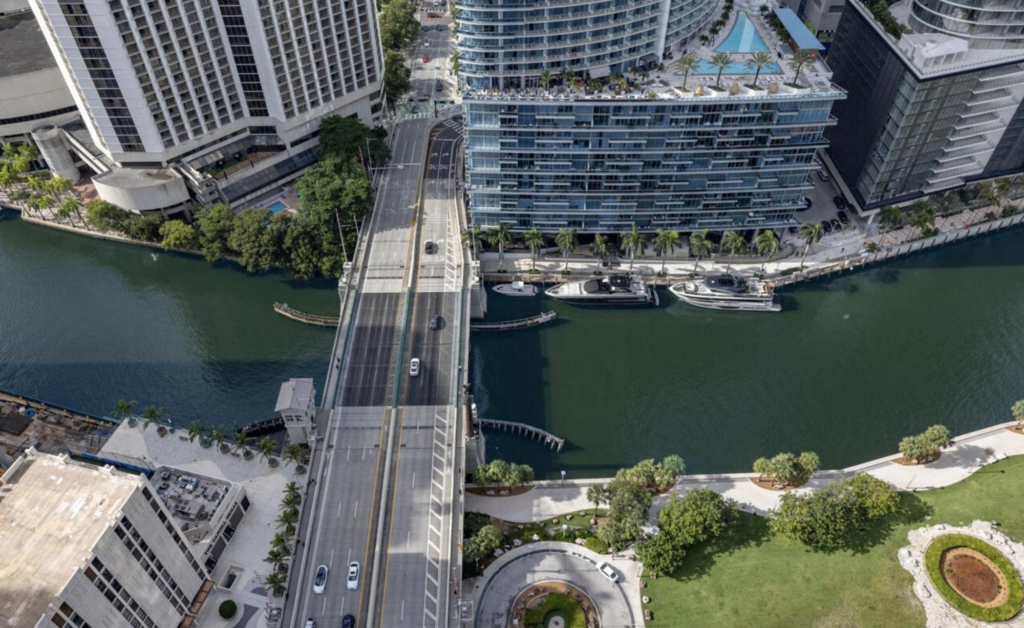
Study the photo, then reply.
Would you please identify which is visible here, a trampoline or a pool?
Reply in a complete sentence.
The one in the frame is a pool.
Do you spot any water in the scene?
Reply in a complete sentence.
Yes, there's water in this view.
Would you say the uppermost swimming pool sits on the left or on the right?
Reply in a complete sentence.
The uppermost swimming pool is on the right side of the image.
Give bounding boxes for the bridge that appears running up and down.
[268,119,489,628]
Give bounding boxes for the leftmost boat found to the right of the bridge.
[495,283,540,298]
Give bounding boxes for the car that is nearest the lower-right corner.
[597,559,619,583]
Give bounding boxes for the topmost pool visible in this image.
[714,11,771,53]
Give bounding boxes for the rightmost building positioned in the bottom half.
[270,376,313,454]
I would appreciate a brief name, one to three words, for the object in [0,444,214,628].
building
